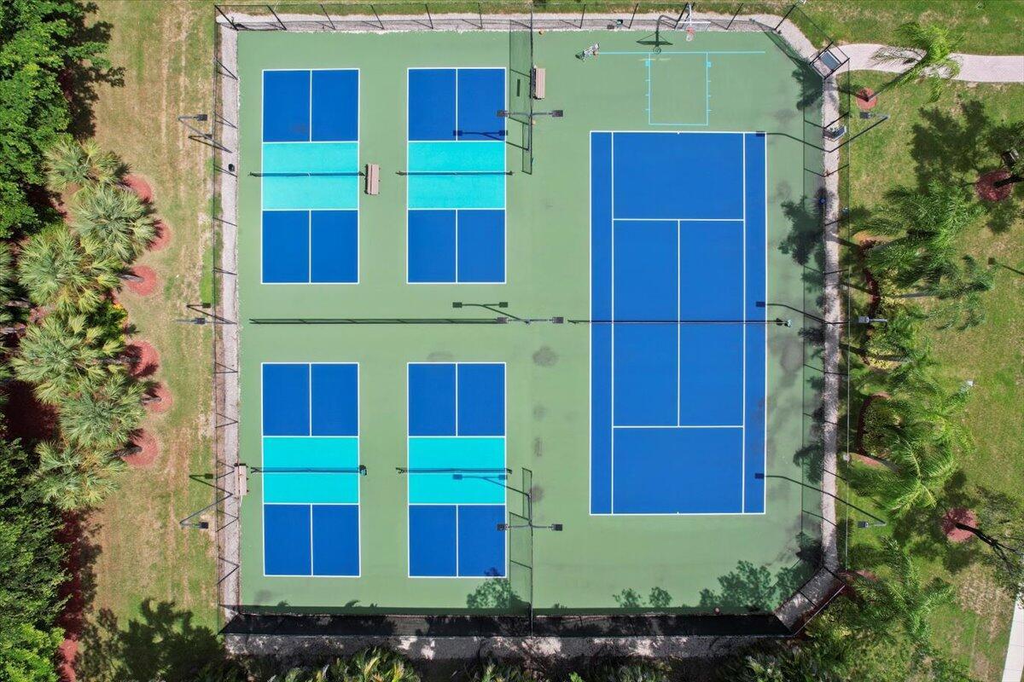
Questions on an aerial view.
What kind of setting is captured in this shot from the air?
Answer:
sports ground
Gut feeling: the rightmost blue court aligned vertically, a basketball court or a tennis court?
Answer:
tennis court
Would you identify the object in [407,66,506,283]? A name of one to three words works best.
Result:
sports court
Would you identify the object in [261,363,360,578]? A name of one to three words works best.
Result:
sports court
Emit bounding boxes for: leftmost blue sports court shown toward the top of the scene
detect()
[261,68,360,284]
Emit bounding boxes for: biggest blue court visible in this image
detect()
[589,130,767,516]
